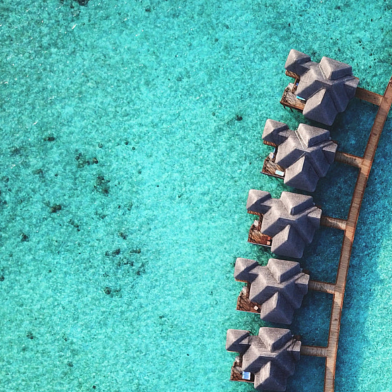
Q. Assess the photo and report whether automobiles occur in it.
No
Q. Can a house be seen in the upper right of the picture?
Yes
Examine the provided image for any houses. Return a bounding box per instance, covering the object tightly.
[280,50,364,124]
[228,327,306,389]
[236,257,314,321]
[260,121,341,189]
[243,190,323,255]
